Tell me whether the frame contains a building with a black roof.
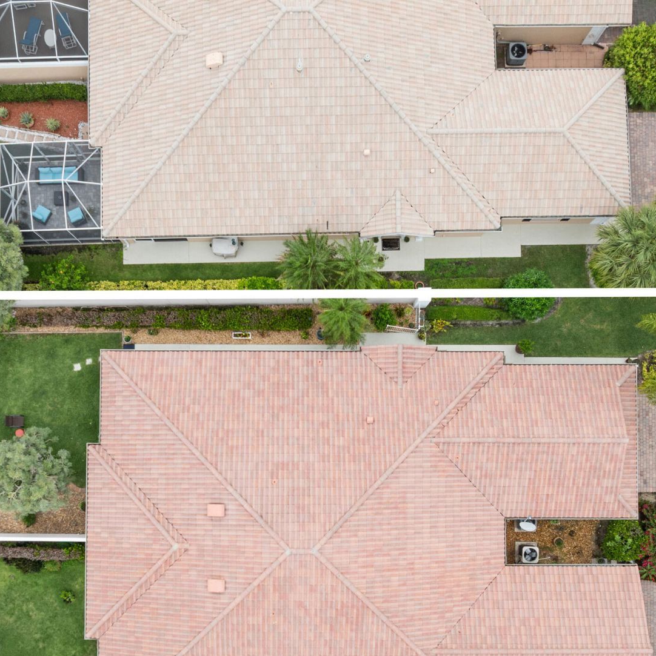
No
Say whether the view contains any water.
No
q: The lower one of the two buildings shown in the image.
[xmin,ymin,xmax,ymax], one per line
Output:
[83,343,654,656]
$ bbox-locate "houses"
[85,0,634,247]
[83,343,654,656]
